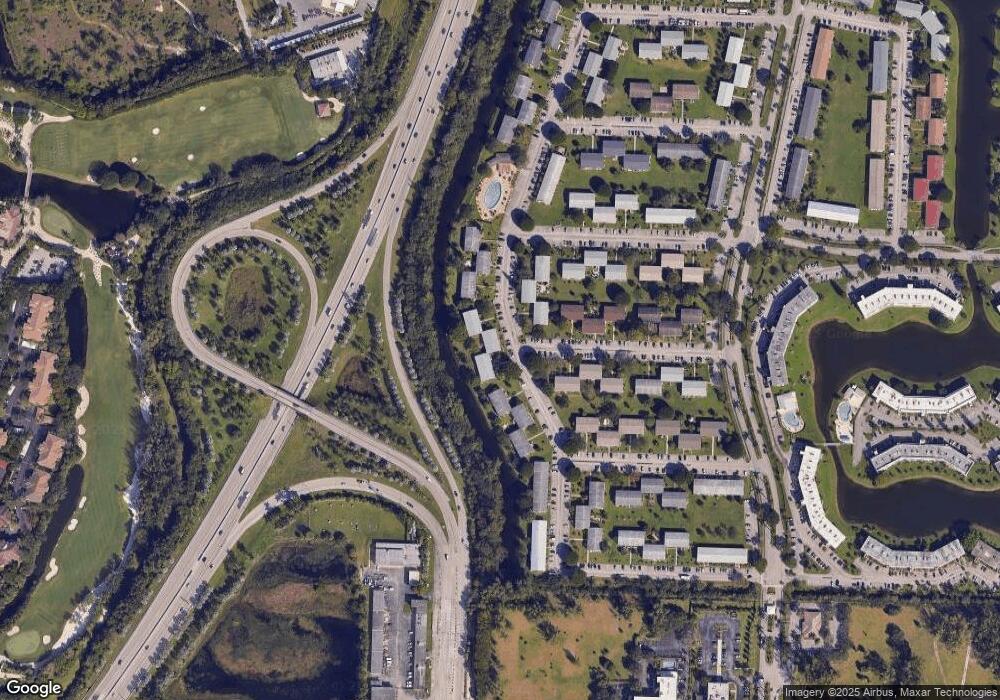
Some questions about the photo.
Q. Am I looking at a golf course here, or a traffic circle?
golf course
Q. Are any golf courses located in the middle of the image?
No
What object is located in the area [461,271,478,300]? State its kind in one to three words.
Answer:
building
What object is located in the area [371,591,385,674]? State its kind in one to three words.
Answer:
shed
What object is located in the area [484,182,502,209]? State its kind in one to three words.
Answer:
swimming pool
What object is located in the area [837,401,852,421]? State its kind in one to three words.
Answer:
swimming pool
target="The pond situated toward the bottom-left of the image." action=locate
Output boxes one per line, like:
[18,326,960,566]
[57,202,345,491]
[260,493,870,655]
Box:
[0,465,84,627]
